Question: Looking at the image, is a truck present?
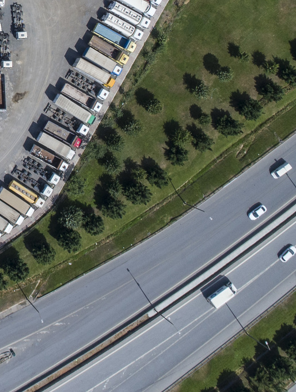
Yes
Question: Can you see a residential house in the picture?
No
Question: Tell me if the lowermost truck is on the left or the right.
right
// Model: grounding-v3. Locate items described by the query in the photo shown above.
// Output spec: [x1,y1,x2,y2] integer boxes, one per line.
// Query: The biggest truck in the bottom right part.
[200,276,236,312]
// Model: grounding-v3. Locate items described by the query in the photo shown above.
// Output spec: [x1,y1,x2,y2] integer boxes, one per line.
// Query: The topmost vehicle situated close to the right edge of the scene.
[269,163,291,177]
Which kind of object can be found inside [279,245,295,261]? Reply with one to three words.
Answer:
car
